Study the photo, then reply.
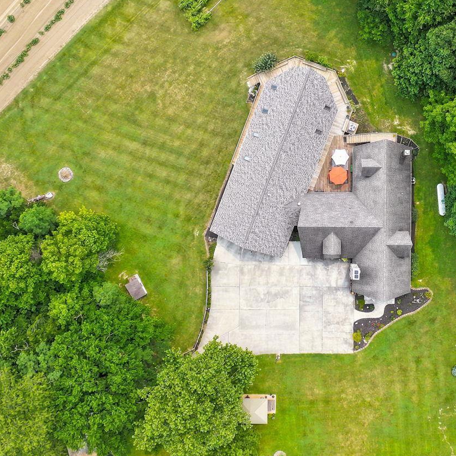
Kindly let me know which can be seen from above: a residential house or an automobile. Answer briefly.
residential house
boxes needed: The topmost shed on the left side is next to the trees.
[123,274,148,300]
